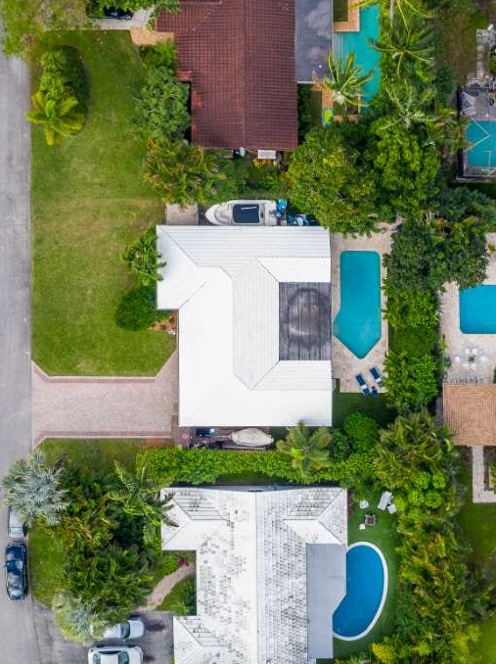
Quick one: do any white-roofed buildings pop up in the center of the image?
Yes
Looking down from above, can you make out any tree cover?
Yes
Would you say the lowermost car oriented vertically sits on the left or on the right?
left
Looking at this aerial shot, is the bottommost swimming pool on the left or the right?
right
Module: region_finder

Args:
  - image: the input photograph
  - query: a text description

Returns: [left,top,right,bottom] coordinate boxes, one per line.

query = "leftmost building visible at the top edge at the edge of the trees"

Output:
[154,0,334,152]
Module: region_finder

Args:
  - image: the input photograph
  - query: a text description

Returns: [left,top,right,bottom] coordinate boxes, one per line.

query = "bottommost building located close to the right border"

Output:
[440,381,496,447]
